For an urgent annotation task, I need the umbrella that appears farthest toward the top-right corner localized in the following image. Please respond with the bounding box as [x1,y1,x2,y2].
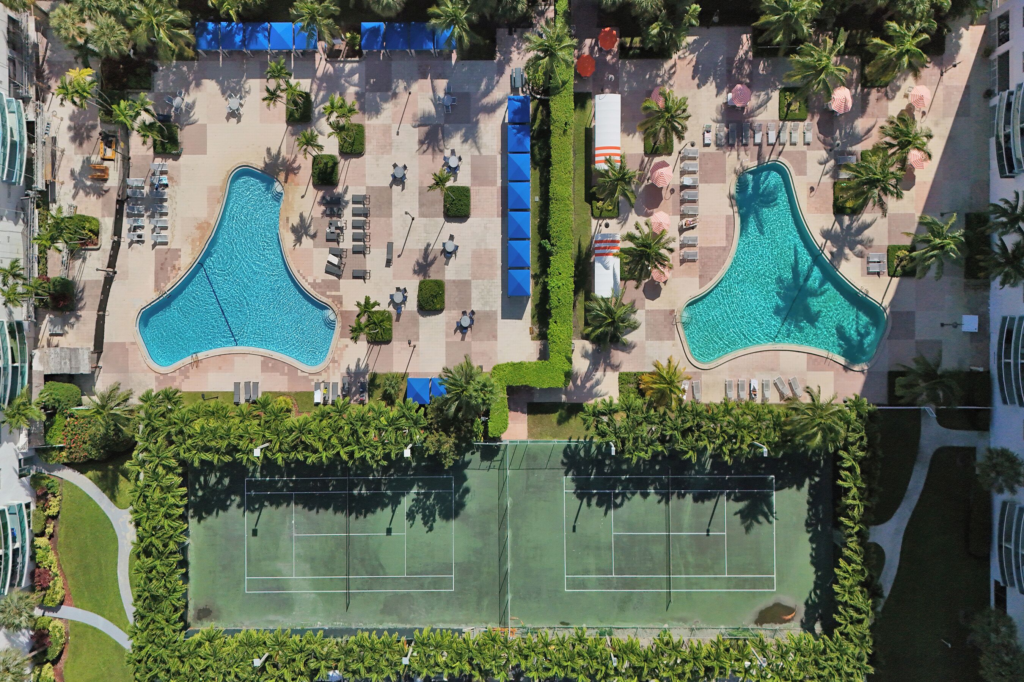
[907,85,929,109]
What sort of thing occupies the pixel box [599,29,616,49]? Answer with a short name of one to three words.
umbrella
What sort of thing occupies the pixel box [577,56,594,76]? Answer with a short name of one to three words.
umbrella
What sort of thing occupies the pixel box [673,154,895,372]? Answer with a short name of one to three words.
swimming pool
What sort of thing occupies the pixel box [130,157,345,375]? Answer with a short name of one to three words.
swimming pool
